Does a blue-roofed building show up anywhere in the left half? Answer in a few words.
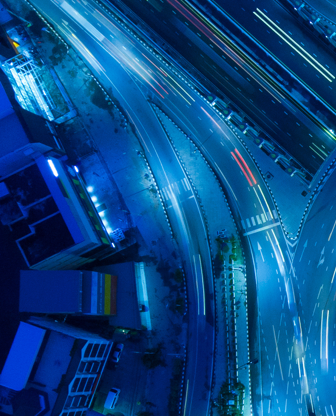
Yes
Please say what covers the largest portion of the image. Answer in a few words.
paved ground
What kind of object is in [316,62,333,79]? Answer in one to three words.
car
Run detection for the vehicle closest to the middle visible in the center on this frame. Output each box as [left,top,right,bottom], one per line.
[170,193,183,212]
